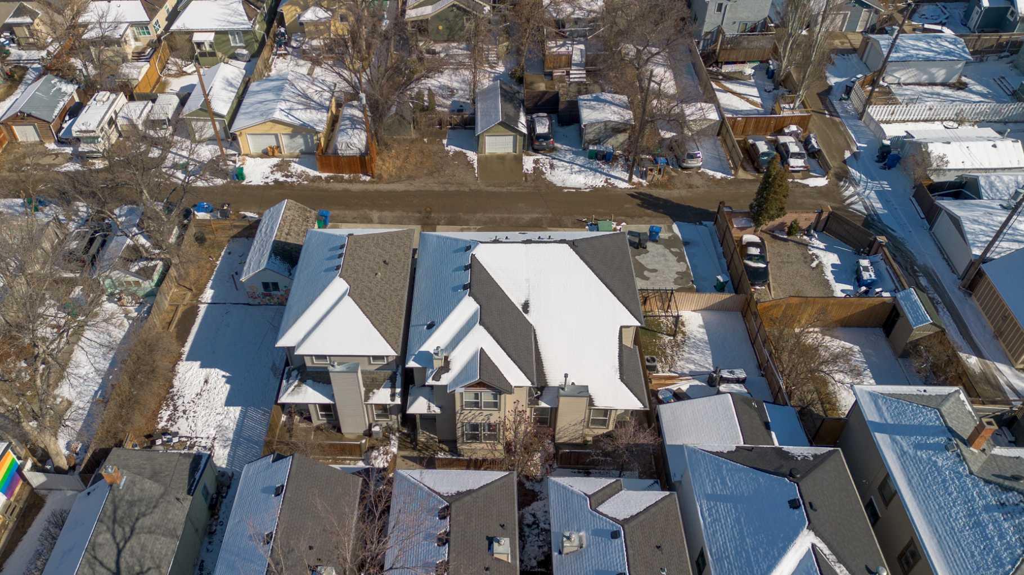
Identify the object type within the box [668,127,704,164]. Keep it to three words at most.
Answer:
car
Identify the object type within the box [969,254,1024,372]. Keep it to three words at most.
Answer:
shed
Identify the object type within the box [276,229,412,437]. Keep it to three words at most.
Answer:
house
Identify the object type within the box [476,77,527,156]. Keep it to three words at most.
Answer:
building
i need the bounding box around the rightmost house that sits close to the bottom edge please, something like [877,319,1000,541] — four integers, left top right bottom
[831,385,1024,575]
